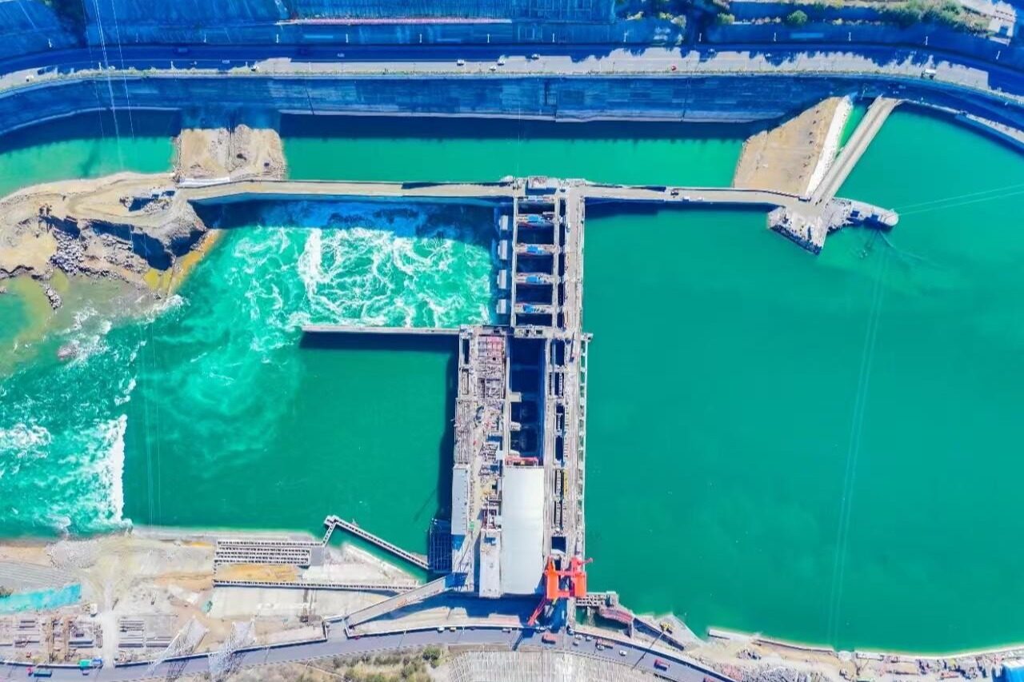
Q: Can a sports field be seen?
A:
No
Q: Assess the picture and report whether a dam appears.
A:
Yes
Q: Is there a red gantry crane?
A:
Yes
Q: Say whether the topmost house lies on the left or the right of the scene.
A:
right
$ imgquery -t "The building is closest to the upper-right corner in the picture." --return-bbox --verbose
[981,2,1016,44]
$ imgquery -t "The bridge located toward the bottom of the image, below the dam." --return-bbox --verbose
[345,573,448,628]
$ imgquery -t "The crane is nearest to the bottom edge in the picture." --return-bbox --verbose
[528,551,593,625]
